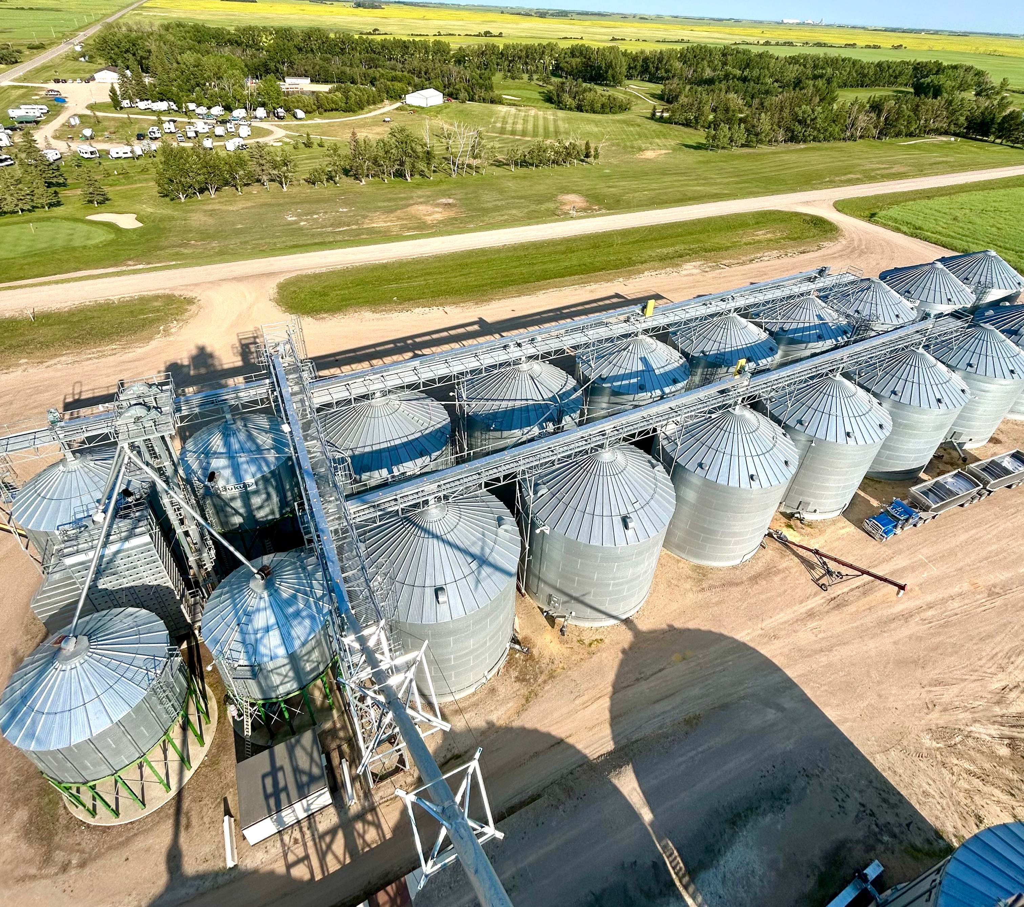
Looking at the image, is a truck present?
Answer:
Yes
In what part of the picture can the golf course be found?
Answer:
top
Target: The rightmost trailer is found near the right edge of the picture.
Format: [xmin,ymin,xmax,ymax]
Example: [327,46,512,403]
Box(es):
[966,447,1024,493]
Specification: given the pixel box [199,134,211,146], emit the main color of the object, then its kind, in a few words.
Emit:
white vehicle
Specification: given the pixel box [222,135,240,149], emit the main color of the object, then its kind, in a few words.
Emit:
white vehicle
